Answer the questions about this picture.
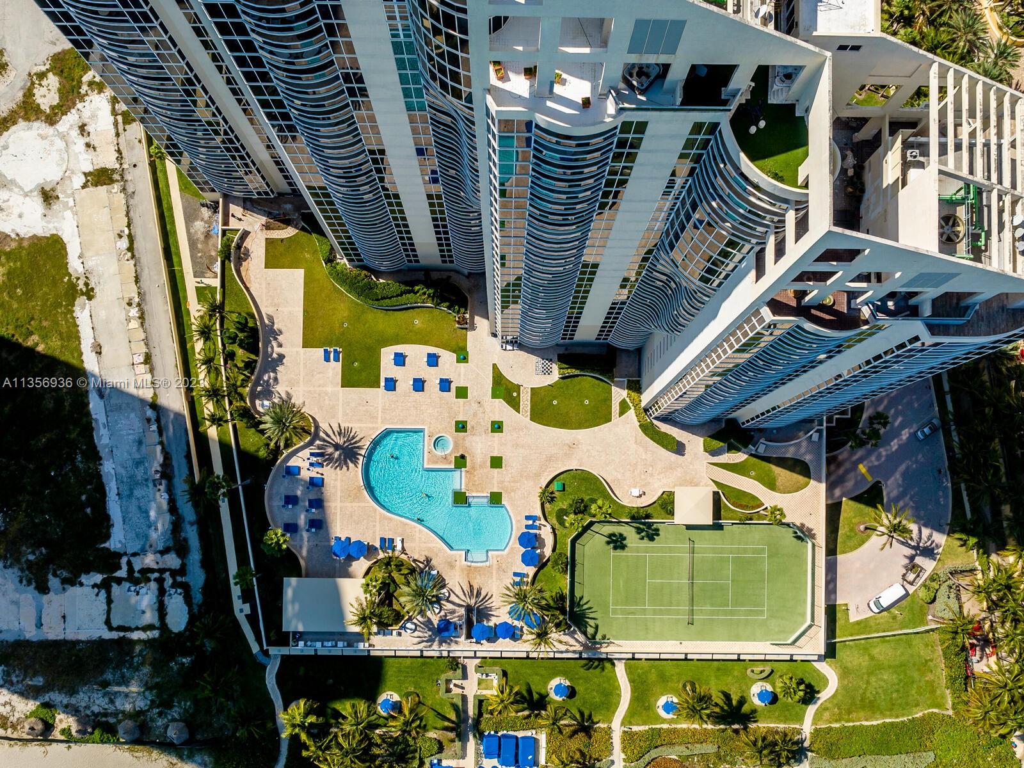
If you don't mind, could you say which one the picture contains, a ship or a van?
van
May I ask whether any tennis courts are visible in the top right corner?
No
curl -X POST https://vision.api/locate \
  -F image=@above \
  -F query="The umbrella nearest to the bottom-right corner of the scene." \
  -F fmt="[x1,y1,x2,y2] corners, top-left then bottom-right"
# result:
[756,688,771,703]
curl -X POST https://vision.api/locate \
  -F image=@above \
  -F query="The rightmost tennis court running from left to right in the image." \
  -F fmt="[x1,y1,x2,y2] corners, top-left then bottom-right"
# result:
[570,522,811,642]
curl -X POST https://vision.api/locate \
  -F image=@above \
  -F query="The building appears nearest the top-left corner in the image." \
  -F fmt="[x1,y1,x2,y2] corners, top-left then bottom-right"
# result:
[35,0,498,280]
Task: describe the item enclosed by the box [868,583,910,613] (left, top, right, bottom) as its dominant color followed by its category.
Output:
white van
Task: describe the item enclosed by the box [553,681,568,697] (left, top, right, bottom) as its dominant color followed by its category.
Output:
blue umbrella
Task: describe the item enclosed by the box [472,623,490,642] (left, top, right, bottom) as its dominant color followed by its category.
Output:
blue umbrella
